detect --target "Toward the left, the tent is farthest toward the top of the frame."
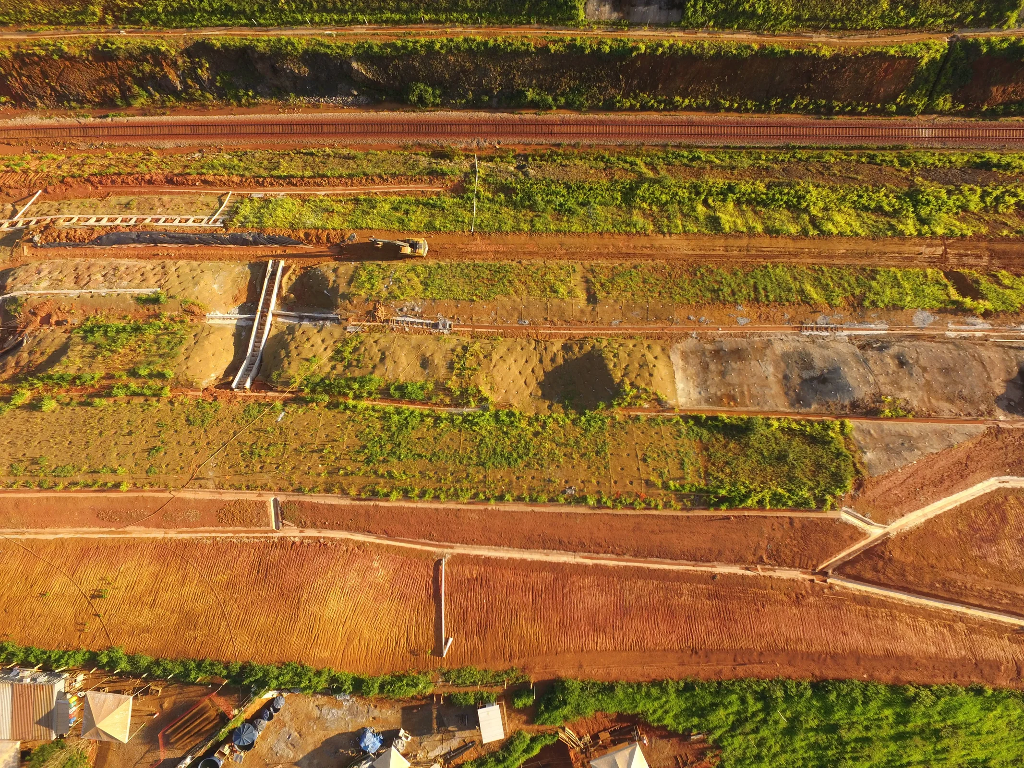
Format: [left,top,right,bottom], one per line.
[81,681,147,744]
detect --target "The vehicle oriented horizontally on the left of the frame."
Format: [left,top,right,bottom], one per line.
[367,235,430,261]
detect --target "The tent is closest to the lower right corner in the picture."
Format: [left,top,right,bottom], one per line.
[587,729,649,768]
